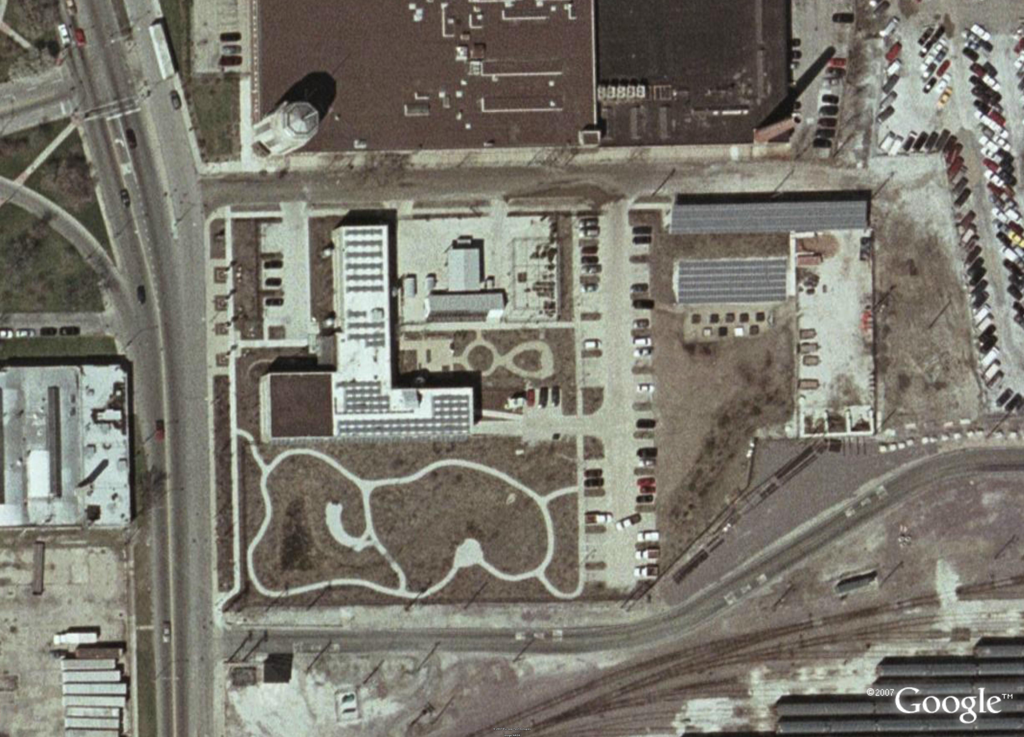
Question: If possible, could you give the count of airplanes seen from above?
none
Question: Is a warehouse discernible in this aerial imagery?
Yes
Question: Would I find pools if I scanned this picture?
No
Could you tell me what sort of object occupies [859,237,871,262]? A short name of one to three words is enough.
vehicle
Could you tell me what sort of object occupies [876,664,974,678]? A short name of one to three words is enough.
rail car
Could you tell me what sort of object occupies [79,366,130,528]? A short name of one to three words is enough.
building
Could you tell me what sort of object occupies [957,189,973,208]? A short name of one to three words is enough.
car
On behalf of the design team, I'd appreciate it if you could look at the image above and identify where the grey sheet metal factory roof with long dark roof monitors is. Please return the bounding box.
[0,365,83,528]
